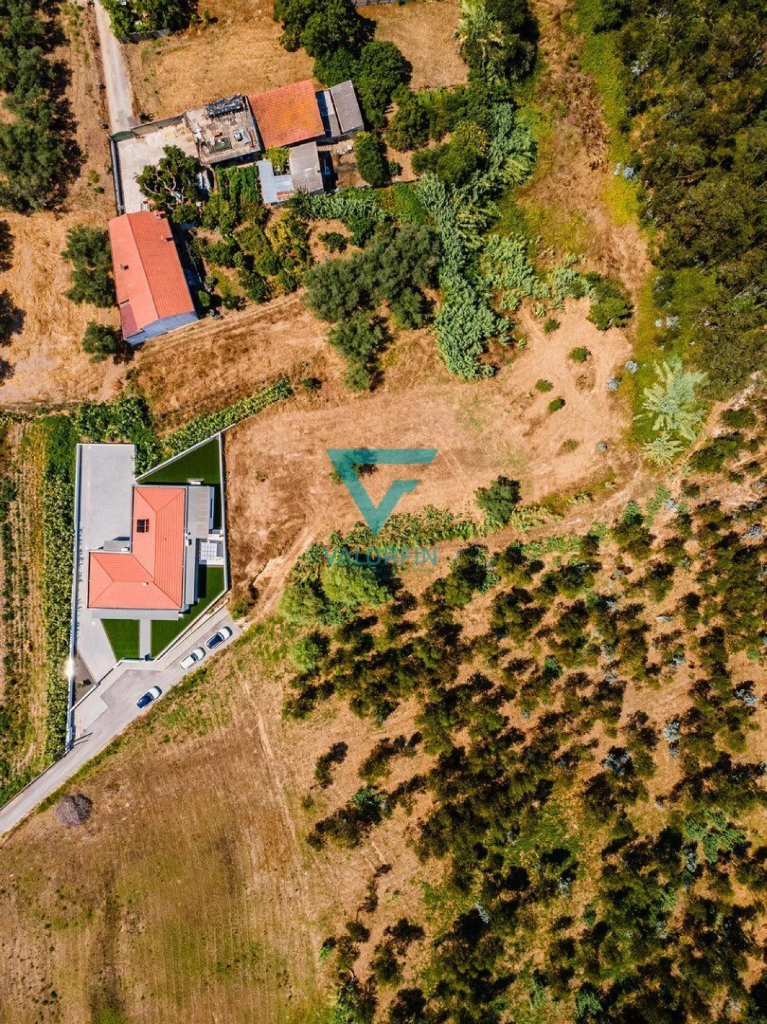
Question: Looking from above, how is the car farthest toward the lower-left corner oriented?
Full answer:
The car farthest toward the lower-left corner has been laid out on a diagonal relative to the frame.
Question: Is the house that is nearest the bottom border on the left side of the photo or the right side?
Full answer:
It is on the left.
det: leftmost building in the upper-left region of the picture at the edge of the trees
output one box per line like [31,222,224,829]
[109,212,201,337]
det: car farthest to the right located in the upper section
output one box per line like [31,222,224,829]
[320,157,335,186]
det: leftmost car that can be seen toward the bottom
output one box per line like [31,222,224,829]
[135,686,163,708]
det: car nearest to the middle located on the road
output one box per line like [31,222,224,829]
[206,626,232,649]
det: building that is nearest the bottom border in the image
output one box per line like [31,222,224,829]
[87,484,214,620]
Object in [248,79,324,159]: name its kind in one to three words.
building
